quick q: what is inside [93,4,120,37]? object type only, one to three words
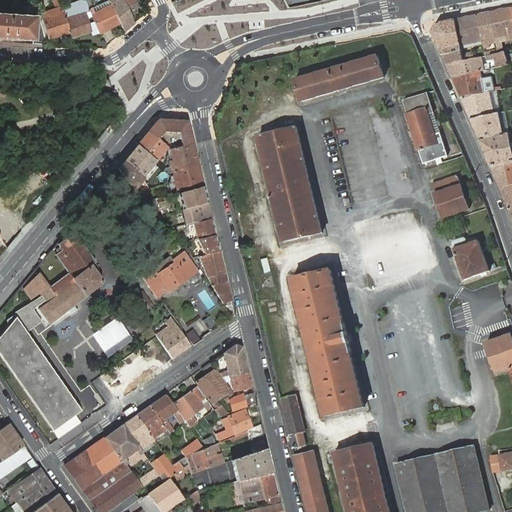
house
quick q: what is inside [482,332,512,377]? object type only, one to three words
house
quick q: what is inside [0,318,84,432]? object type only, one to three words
building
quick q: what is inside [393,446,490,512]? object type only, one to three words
building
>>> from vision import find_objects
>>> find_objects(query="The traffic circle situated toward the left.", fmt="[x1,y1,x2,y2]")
[154,48,230,112]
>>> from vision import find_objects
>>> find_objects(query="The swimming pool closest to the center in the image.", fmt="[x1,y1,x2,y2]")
[198,290,214,310]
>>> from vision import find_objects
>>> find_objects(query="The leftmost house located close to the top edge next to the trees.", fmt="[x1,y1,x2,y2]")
[0,13,42,48]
